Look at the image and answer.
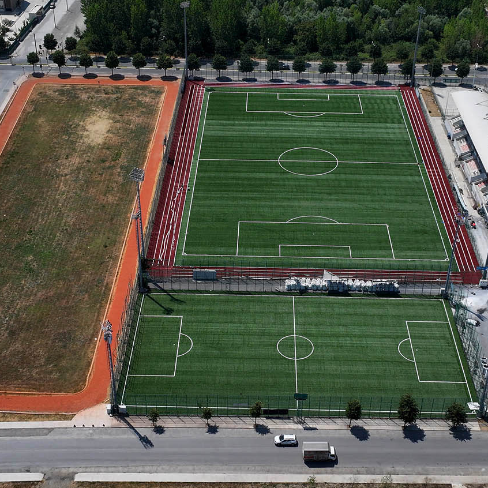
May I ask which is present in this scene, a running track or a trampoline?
running track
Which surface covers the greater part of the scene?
grass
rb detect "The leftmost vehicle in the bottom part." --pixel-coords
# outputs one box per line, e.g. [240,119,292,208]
[274,434,298,446]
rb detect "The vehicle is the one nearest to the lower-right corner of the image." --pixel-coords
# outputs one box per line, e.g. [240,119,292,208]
[304,438,338,461]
